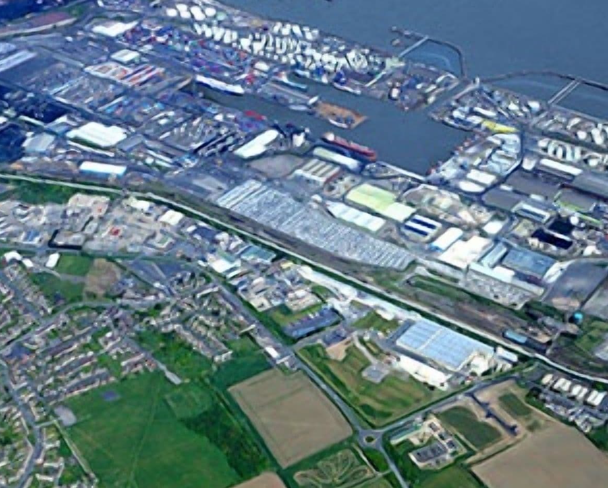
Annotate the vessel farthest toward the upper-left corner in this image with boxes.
[192,74,244,94]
